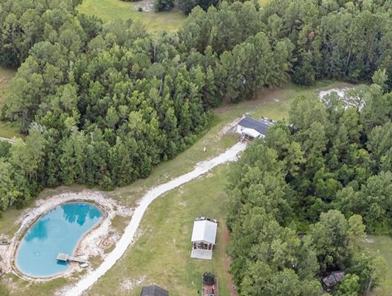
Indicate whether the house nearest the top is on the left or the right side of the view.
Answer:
right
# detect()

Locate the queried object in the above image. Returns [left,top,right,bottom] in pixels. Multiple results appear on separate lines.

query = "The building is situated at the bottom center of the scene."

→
[190,219,220,260]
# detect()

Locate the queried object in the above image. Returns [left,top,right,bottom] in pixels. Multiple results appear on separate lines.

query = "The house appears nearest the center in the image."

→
[239,118,277,142]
